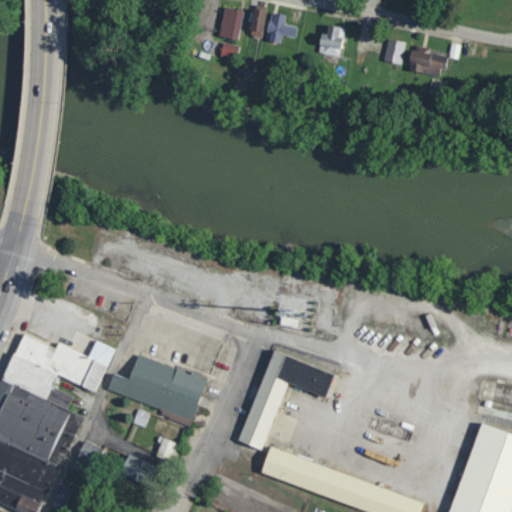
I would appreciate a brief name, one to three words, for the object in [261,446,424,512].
building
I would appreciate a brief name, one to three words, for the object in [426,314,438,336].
vehicle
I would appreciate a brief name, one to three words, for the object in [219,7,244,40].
house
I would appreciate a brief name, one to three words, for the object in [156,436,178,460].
house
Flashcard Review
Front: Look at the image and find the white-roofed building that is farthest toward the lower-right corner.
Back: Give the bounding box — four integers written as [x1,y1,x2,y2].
[447,423,512,512]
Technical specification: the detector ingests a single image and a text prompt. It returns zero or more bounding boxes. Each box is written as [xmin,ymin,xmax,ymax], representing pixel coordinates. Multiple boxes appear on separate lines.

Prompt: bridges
[0,0,68,232]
